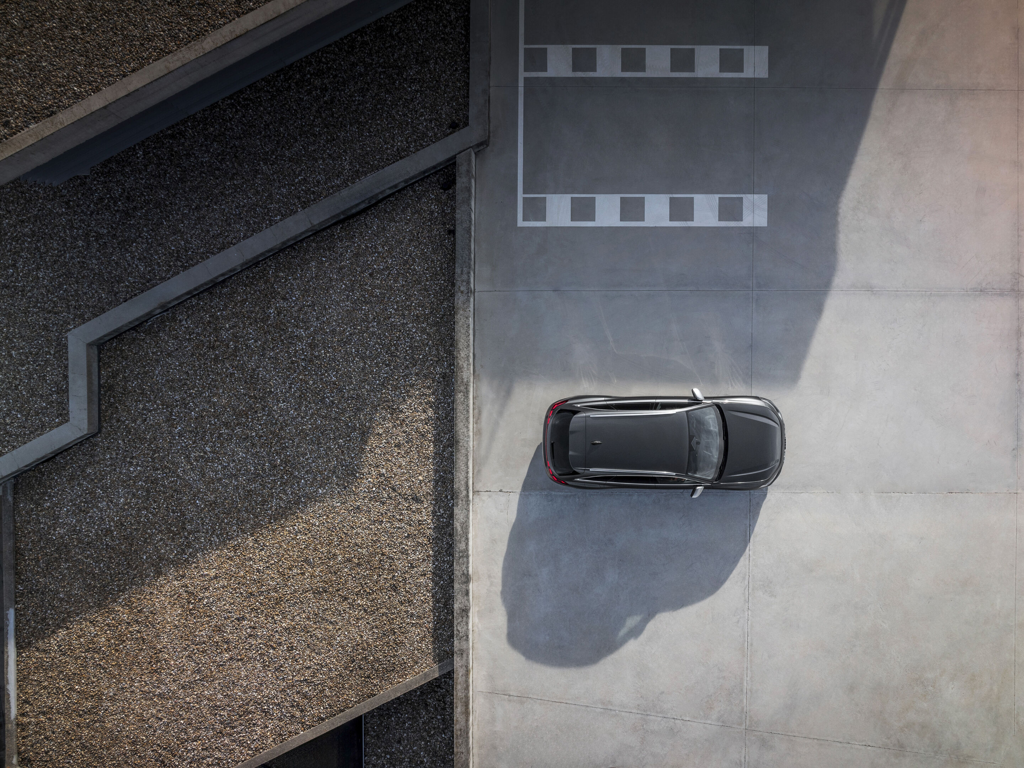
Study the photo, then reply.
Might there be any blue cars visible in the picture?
No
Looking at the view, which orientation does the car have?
from side to side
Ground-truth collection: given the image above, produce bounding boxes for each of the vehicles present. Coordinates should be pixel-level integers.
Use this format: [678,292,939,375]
[542,388,787,497]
